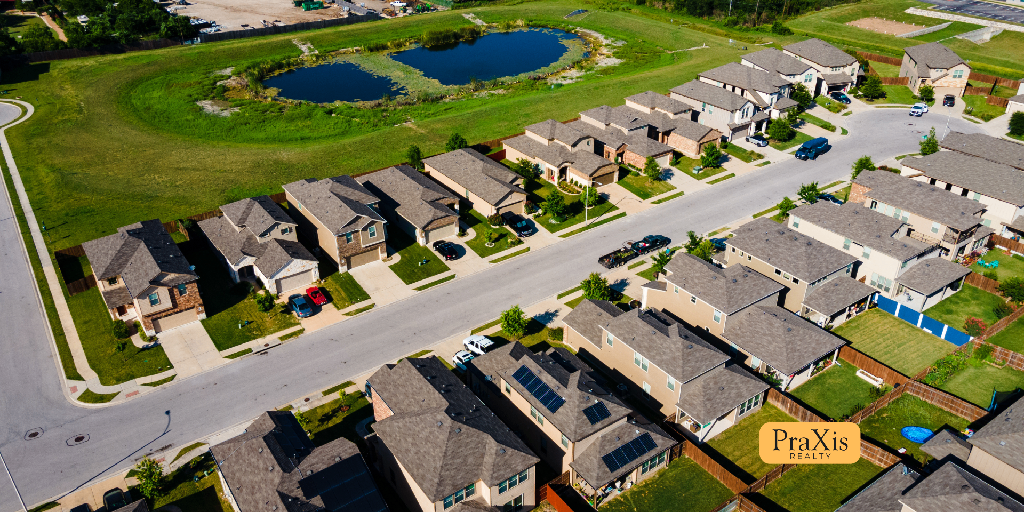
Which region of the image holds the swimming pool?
bottom right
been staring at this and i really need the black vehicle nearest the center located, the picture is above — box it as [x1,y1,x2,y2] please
[504,211,536,234]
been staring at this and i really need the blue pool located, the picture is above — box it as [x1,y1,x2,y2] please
[901,420,936,444]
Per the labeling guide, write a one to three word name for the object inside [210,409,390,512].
building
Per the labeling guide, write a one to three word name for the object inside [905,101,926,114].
vehicle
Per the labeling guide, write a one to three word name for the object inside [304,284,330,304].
car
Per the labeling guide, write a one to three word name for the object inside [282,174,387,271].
house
